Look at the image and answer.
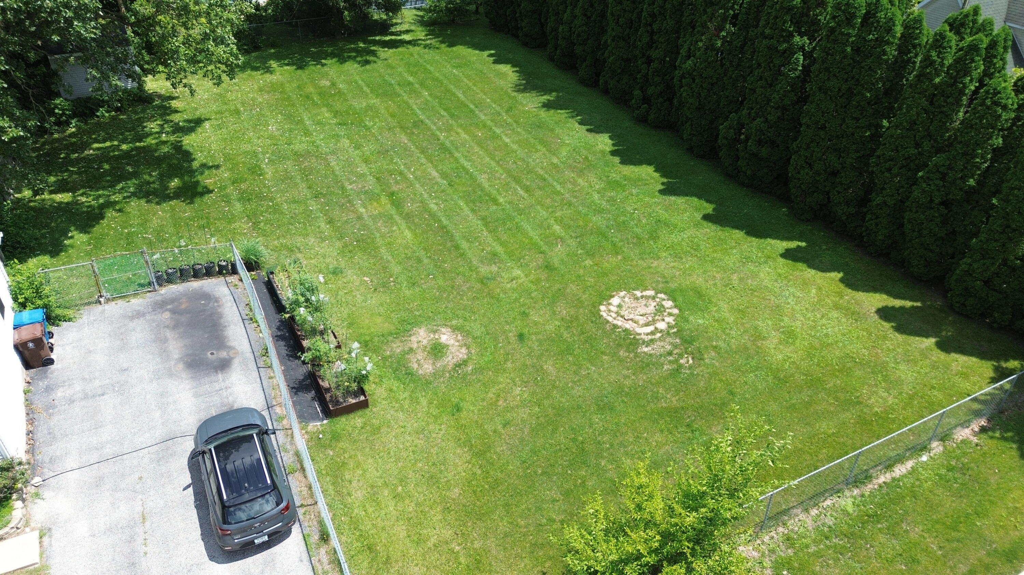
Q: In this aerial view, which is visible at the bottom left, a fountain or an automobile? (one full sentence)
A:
You can see an automobile at the bottom left.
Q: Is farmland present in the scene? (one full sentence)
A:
No, no farmland is visible.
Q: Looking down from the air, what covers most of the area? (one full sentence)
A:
The largest share of the image is taken up by grass.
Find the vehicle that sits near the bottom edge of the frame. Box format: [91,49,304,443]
[190,411,300,561]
